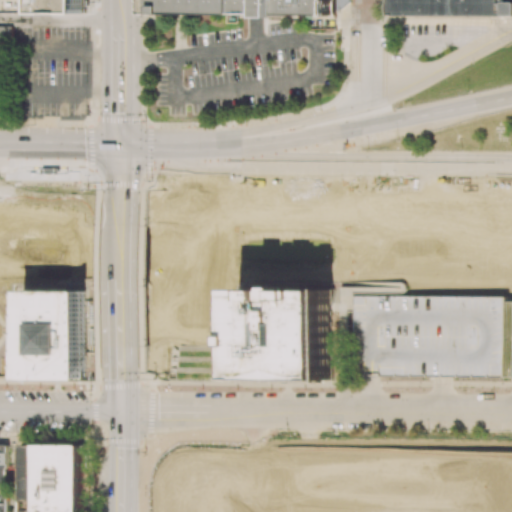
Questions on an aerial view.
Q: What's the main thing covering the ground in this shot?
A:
paved ground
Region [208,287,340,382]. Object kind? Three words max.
building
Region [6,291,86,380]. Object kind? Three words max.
building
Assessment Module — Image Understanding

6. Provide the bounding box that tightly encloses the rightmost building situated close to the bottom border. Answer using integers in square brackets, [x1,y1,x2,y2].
[16,444,82,512]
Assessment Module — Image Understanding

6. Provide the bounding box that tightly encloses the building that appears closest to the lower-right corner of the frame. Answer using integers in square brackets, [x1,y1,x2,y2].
[345,284,512,376]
